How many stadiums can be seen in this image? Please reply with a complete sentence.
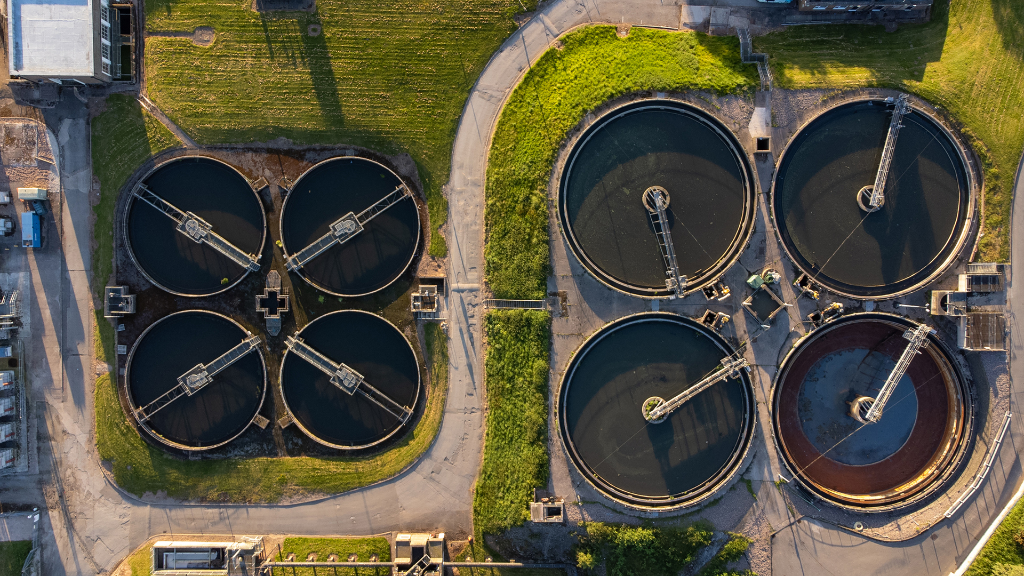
No stadiums are visible.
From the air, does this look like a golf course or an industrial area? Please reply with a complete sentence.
What you see here is an industrial area.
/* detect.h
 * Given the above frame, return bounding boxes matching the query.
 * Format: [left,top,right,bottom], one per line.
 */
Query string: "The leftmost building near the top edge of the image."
[7,0,112,87]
